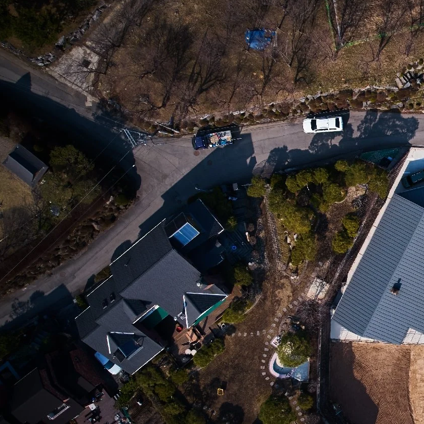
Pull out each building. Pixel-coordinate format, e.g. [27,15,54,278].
[75,219,241,375]
[0,365,95,424]
[3,145,53,186]
[331,193,424,344]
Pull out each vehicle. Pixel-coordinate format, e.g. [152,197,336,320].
[302,114,342,134]
[95,350,121,381]
[399,169,424,188]
[190,129,233,150]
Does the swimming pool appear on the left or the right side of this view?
right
